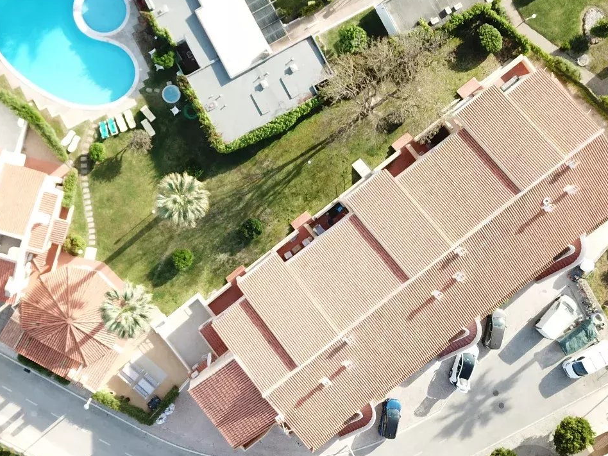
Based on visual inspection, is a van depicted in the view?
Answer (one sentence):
Yes, there's a van here.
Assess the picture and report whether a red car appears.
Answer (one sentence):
No, there is no red car in the image.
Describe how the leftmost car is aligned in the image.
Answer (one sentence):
The leftmost car is laid out vertically.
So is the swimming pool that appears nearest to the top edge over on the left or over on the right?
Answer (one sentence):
It is on the left.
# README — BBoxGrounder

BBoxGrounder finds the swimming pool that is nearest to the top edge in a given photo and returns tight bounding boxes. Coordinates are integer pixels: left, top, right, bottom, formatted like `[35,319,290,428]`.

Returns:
[80,0,131,36]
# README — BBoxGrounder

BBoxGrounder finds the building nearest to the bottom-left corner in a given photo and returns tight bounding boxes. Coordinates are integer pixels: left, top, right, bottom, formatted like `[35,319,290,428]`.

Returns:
[0,260,127,394]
